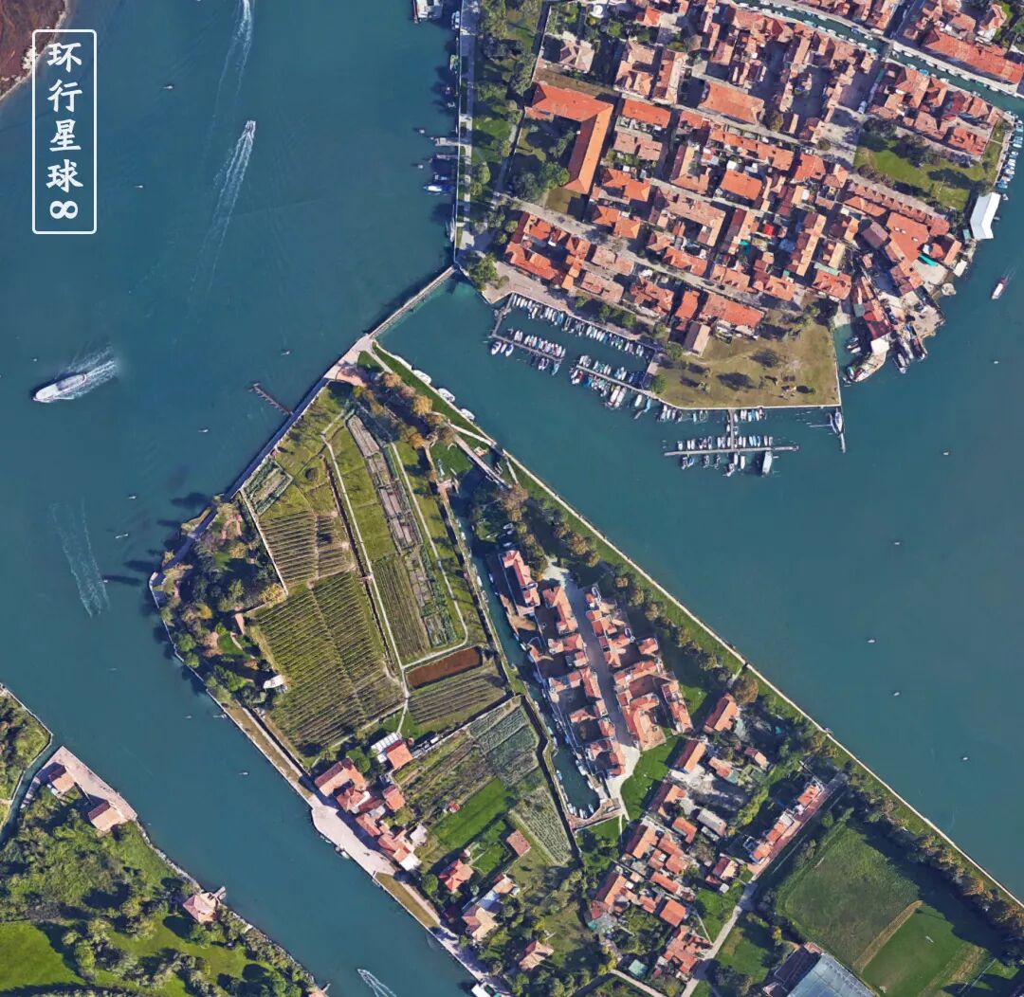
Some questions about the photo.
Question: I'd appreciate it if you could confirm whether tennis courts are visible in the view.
No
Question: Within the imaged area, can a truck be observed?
No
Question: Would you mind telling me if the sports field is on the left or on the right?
right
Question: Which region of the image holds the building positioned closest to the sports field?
bottom right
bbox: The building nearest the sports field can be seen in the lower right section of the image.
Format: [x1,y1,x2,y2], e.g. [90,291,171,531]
[788,954,876,997]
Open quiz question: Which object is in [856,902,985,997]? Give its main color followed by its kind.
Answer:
green sports field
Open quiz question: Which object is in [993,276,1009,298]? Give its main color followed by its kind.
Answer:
white vessel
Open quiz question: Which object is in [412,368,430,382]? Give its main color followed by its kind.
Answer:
white boat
